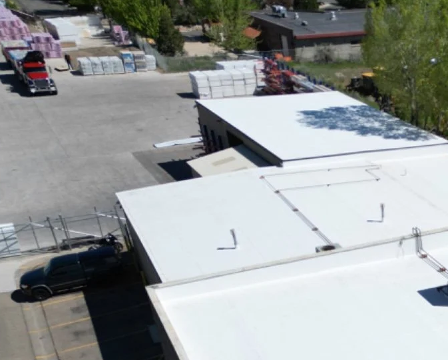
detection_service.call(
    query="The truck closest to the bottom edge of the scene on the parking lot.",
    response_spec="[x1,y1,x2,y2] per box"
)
[25,248,142,303]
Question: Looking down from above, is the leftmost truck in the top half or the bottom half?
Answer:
top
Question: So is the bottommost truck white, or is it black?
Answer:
black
